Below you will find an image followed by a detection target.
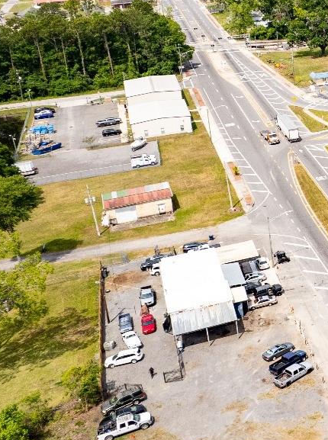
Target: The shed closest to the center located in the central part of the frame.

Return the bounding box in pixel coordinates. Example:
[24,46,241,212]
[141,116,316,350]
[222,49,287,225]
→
[104,190,174,223]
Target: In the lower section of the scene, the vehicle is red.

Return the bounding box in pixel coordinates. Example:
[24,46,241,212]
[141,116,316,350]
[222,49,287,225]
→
[142,314,156,335]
